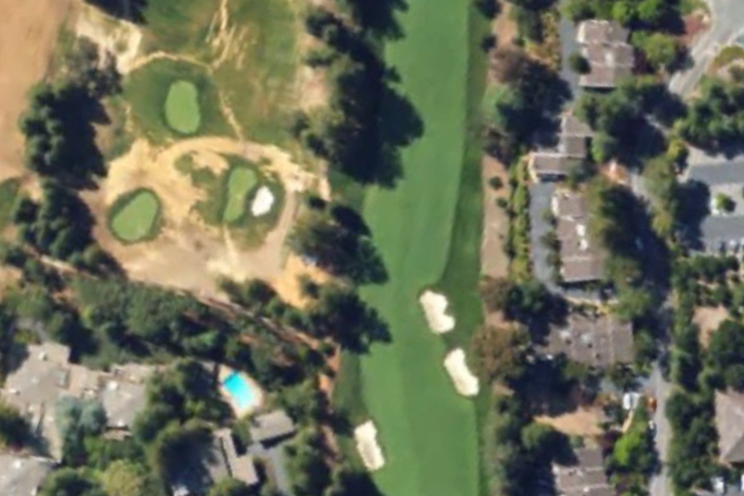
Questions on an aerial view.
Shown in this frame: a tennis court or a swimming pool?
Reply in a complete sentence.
Looking from above, you can make out a swimming pool.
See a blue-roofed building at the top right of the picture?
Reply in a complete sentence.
No, at the top right of the picture there is no blue-roofed building.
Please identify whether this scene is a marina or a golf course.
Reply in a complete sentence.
It's a golf course.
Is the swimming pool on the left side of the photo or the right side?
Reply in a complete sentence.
The swimming pool sits on the left side.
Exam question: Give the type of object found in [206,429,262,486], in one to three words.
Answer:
house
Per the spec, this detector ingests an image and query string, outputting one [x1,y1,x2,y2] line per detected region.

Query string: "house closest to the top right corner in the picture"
[577,20,633,88]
